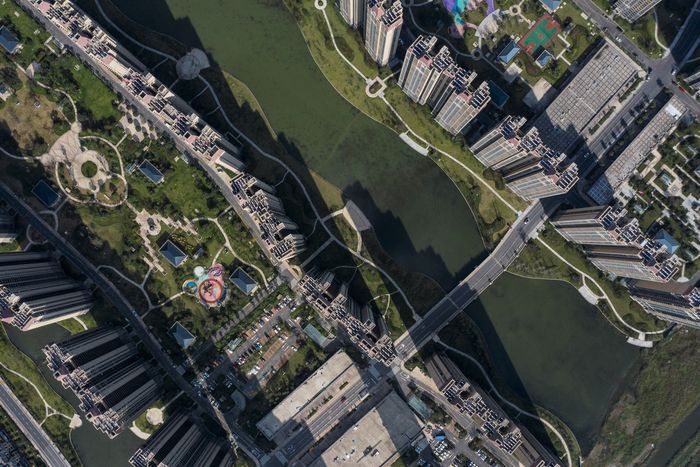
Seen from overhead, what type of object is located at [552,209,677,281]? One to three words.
building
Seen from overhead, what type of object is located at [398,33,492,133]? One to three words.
building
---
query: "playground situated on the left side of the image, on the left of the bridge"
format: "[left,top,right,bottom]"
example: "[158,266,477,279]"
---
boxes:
[183,263,228,306]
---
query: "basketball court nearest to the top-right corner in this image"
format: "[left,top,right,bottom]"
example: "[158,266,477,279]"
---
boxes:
[520,13,561,55]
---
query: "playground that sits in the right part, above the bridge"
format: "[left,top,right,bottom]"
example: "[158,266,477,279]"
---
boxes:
[442,0,494,39]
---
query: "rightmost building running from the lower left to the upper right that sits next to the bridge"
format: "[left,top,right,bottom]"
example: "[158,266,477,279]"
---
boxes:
[584,95,689,206]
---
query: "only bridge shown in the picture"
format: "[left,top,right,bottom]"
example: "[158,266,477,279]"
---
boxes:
[398,200,554,362]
